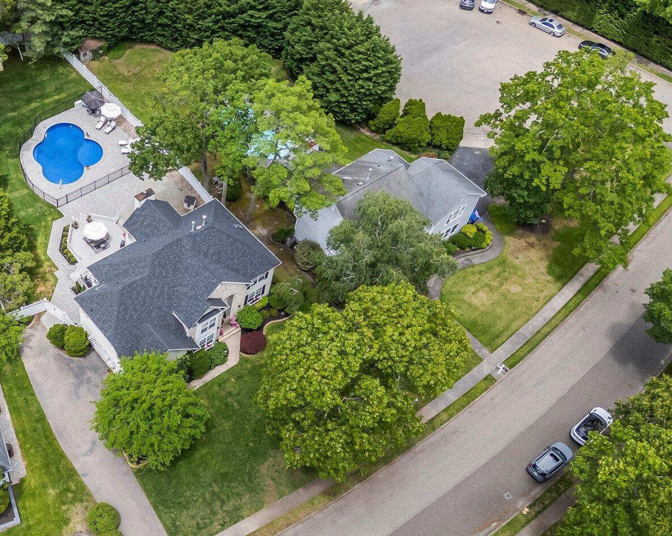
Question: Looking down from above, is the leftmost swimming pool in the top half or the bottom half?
top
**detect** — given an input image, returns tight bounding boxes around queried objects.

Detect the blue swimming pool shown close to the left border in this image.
[32,122,104,185]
